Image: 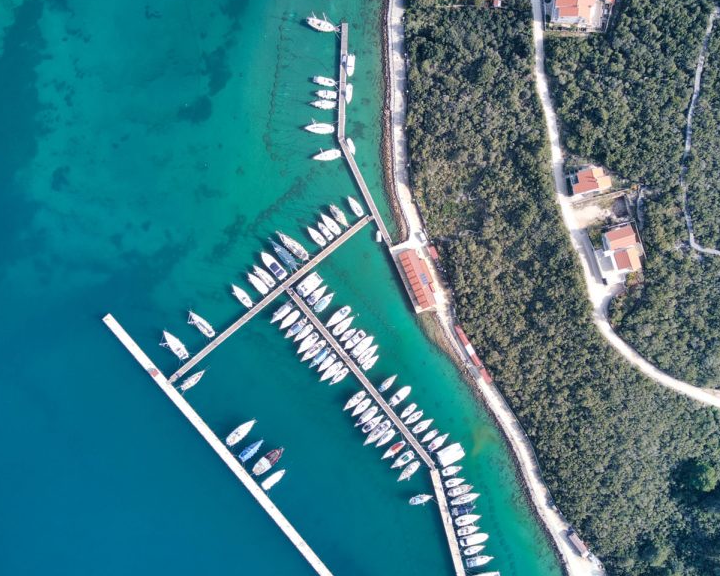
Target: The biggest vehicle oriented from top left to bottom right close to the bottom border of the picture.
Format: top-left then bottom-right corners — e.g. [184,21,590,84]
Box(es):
[570,533,589,559]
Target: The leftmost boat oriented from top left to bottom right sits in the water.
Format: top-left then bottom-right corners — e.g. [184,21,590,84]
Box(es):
[160,331,188,360]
